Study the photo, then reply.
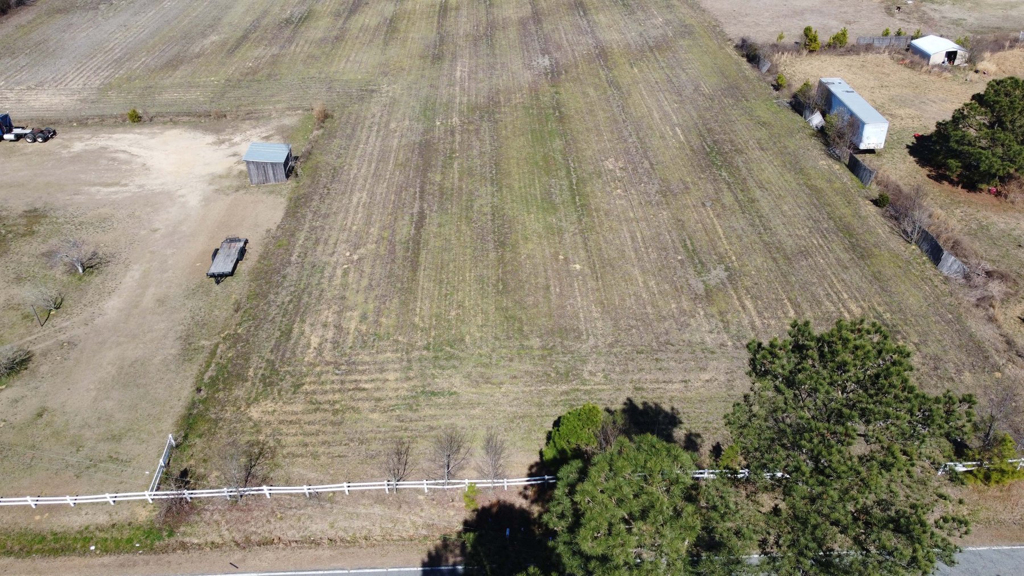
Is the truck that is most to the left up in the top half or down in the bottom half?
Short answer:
top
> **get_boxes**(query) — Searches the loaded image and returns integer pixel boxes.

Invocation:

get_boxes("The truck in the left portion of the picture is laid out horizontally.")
[0,106,64,142]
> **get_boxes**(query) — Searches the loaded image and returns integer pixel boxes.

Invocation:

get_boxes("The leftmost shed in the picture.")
[240,145,291,185]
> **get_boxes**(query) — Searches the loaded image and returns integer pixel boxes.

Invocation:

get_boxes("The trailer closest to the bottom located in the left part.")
[205,235,246,288]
